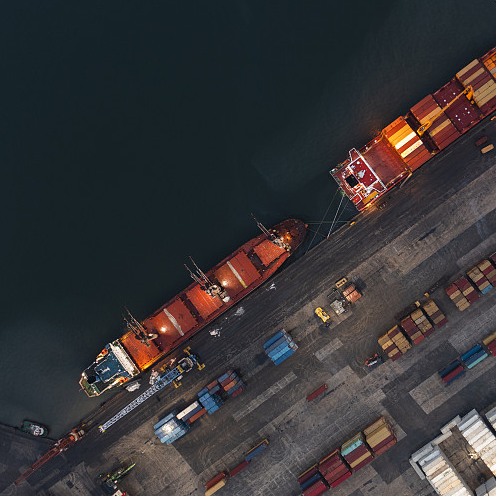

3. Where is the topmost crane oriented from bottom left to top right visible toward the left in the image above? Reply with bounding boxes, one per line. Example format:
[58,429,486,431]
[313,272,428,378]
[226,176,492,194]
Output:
[97,341,209,434]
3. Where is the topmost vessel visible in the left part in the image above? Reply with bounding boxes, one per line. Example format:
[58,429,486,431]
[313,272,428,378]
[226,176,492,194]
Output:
[77,213,307,398]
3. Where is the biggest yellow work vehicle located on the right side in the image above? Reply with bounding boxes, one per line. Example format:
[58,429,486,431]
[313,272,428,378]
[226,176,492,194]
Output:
[315,304,335,329]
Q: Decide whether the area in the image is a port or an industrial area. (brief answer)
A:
port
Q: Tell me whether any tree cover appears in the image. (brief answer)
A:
No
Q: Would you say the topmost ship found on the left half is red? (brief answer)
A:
Yes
